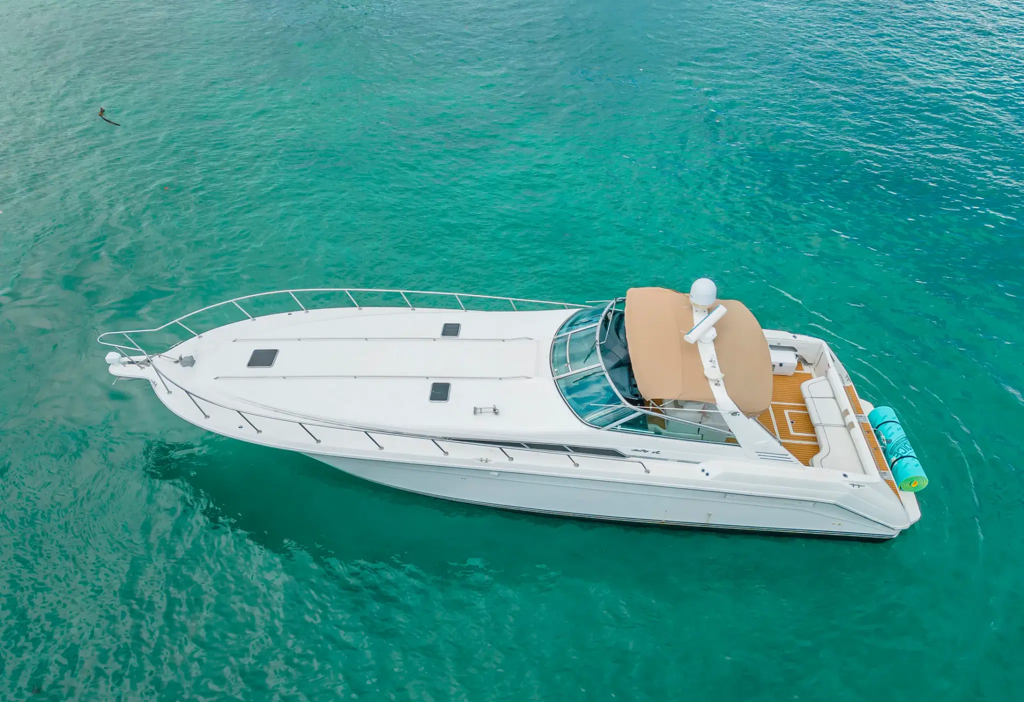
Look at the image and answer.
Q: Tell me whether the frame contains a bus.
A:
No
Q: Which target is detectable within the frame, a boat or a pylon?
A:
boat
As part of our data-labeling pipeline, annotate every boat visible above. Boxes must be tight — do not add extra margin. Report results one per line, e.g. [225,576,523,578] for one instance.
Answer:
[97,280,918,539]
